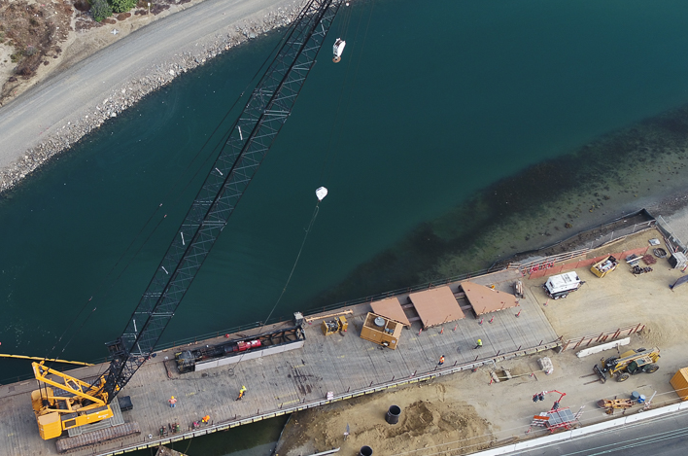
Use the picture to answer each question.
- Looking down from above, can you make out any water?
Yes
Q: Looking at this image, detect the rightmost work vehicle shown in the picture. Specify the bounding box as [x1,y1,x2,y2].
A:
[584,345,664,384]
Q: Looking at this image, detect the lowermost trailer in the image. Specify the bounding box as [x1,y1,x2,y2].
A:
[529,389,579,434]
